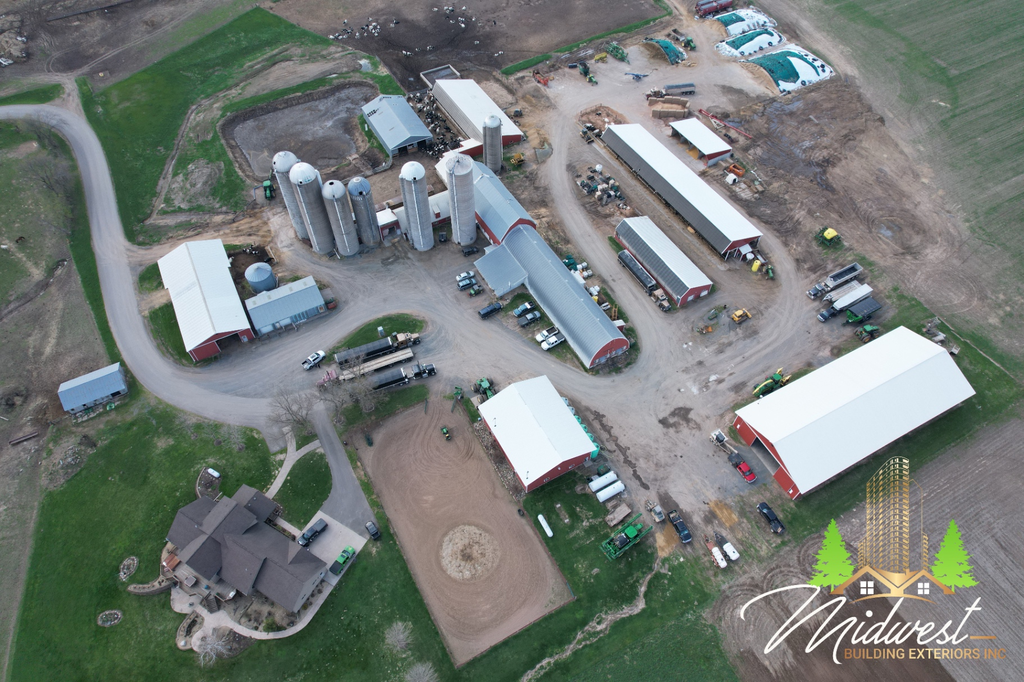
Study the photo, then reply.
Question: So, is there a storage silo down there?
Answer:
Yes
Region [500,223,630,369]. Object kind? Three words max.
barn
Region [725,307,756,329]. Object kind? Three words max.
work vehicle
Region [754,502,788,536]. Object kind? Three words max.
truck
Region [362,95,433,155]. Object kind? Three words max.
shed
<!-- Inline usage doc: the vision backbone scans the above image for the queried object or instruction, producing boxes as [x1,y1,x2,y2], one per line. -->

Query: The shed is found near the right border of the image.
[730,327,977,499]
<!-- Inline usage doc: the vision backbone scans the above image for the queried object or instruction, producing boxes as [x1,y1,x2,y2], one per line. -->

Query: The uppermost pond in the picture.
[235,86,370,176]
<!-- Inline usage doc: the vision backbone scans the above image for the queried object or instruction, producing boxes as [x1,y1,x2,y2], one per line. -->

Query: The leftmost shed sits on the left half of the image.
[58,361,130,416]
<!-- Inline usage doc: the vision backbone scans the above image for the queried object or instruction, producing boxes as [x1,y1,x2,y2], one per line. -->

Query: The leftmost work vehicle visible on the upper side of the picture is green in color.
[263,181,276,202]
